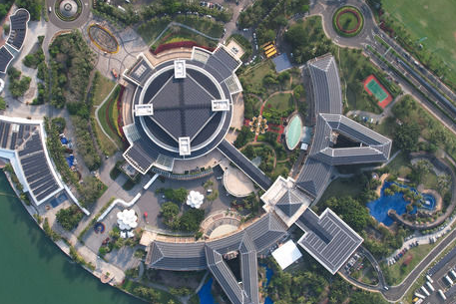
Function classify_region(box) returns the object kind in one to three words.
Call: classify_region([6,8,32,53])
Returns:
building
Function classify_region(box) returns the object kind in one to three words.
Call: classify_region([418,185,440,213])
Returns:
swimming pool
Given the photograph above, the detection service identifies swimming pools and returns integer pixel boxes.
[367,179,420,227]
[285,113,304,151]
[261,265,275,304]
[50,195,70,209]
[418,185,440,213]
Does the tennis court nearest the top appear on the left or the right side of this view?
right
